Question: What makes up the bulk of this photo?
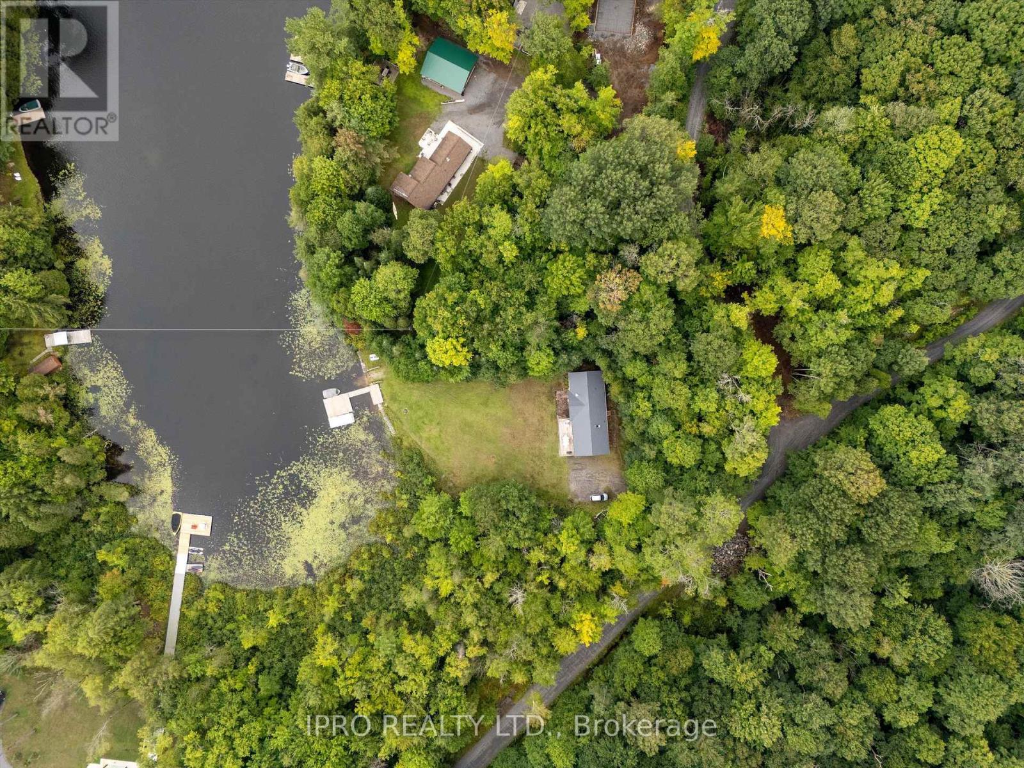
trees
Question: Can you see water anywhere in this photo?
Yes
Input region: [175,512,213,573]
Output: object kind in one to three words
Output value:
pier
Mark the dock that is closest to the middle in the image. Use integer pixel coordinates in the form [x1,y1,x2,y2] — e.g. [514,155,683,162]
[323,383,383,418]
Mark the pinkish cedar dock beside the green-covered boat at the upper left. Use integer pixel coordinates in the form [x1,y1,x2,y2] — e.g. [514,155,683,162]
[13,108,47,127]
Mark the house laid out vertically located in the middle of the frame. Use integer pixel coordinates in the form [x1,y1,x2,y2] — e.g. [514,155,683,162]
[569,370,610,457]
